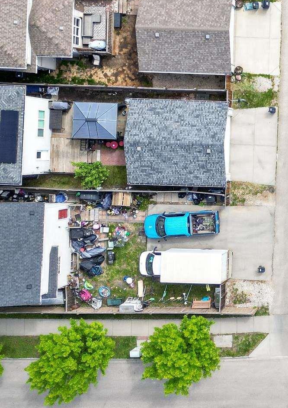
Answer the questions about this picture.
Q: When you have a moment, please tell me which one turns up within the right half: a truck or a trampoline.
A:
truck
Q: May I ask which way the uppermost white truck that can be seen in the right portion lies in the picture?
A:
from left to right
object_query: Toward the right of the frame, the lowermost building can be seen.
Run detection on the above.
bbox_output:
[123,97,240,187]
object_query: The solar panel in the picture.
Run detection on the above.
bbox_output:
[0,110,18,163]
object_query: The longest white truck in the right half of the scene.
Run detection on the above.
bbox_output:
[140,246,235,284]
